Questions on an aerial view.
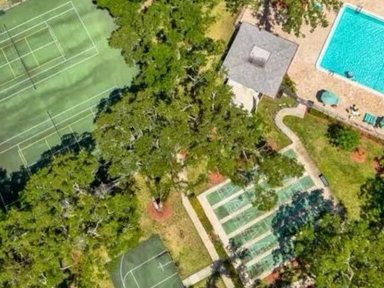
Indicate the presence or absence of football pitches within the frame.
No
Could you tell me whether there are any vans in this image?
No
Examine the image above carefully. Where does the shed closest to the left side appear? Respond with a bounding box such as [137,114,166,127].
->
[221,21,300,97]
